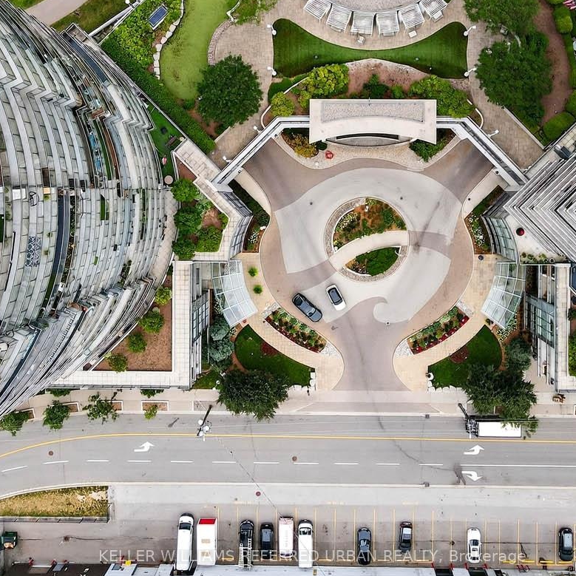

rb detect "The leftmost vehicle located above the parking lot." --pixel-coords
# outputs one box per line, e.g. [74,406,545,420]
[290,291,325,323]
